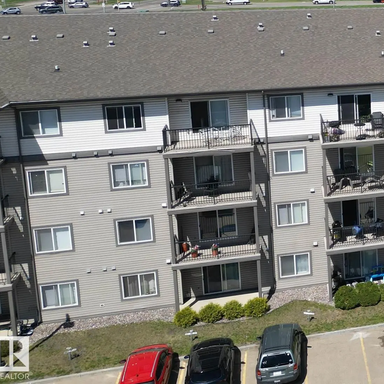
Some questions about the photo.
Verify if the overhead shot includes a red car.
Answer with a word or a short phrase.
Yes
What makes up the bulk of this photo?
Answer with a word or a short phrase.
buildings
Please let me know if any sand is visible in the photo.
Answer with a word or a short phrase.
No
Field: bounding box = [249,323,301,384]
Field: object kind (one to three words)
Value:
car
